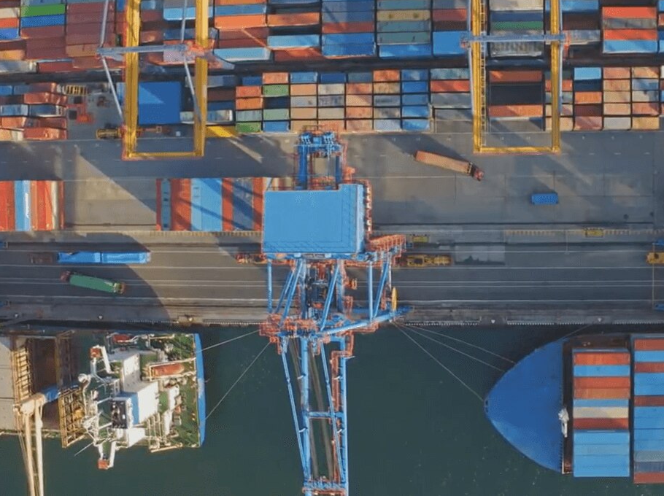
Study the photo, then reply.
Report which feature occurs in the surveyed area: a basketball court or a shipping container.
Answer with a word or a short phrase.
shipping container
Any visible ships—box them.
[0,329,209,465]
[484,328,664,477]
